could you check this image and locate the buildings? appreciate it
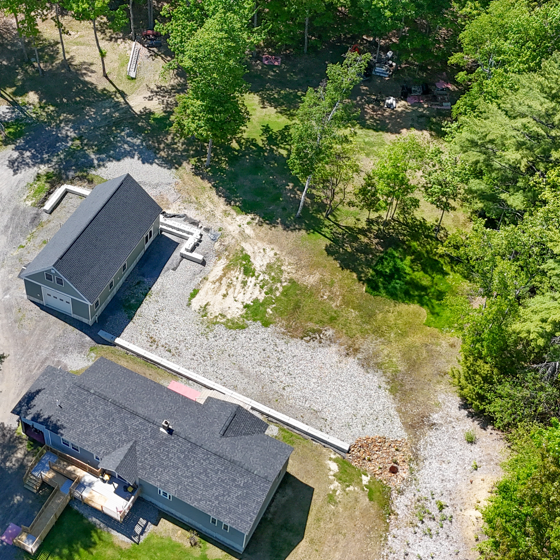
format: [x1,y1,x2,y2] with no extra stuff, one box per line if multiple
[9,357,294,553]
[19,172,163,326]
